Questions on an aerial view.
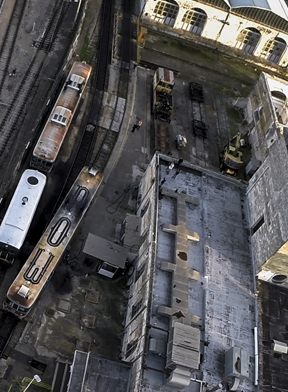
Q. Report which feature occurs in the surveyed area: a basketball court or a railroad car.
railroad car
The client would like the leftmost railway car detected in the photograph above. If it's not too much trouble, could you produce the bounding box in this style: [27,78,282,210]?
[0,171,46,271]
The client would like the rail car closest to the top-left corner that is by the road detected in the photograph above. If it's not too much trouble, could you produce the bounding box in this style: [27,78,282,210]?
[28,62,94,177]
